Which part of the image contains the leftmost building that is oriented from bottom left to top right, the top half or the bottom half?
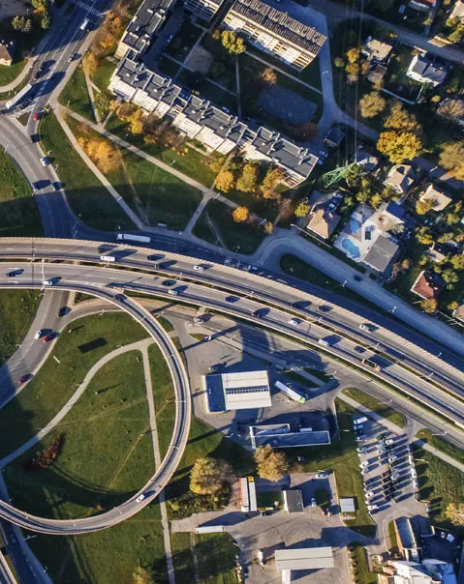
top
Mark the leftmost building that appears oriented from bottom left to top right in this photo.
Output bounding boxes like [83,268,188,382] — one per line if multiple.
[115,0,175,64]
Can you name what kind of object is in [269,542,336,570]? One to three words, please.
shed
